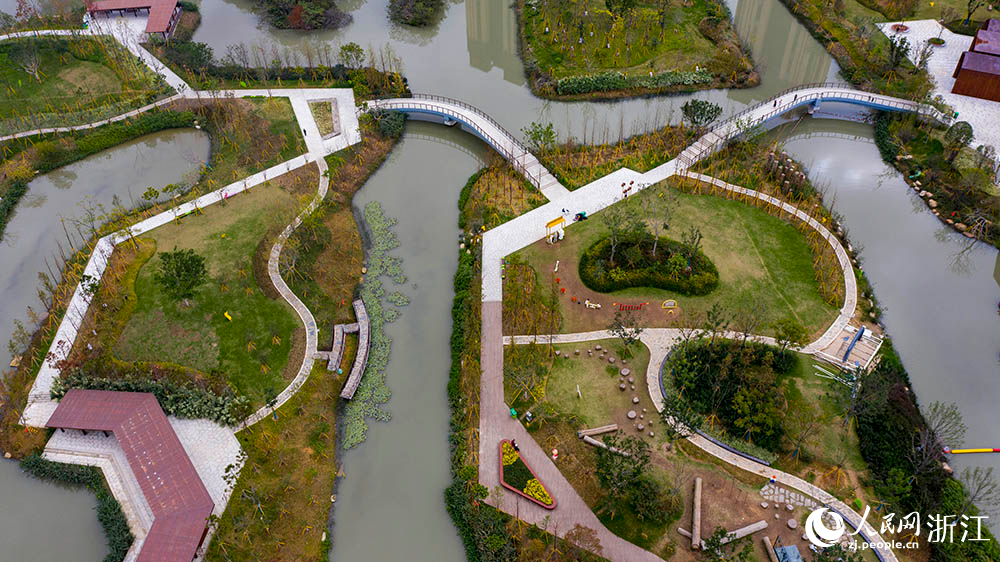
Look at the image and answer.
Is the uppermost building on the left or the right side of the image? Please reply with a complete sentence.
The uppermost building appears in the left half of the scene.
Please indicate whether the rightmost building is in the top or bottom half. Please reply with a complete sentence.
The rightmost building is in the top half of the image.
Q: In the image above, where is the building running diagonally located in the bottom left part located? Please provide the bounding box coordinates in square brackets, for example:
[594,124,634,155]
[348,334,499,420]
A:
[46,389,218,562]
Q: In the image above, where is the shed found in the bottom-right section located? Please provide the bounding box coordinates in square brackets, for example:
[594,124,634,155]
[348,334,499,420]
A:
[773,533,802,562]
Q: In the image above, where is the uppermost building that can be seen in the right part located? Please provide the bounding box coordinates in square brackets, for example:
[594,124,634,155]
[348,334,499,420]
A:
[952,17,1000,102]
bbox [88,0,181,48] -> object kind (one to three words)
building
